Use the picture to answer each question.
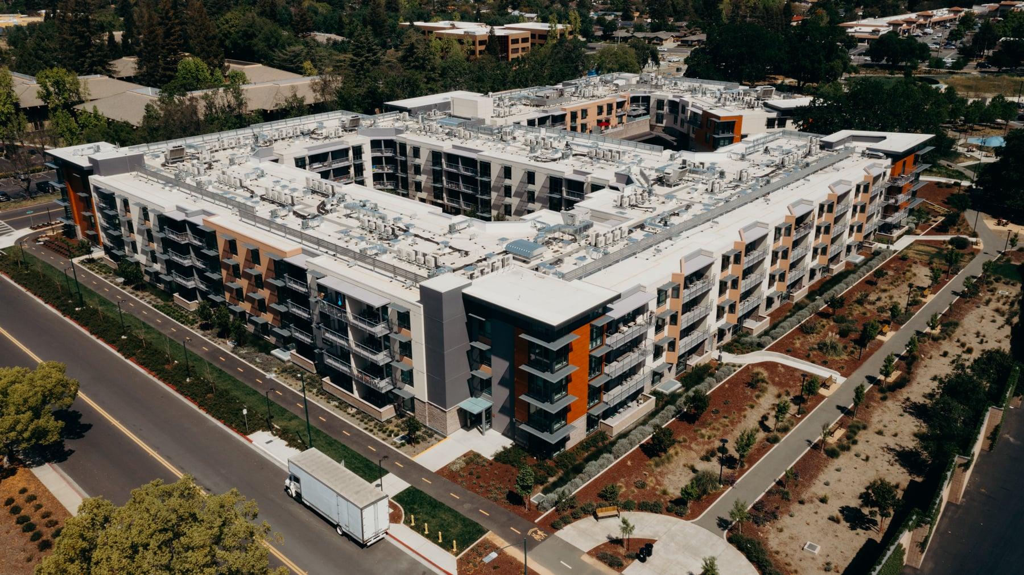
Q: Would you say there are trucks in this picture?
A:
Yes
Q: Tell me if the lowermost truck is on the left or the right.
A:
left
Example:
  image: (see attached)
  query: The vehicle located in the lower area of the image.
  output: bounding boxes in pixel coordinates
[288,447,391,544]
